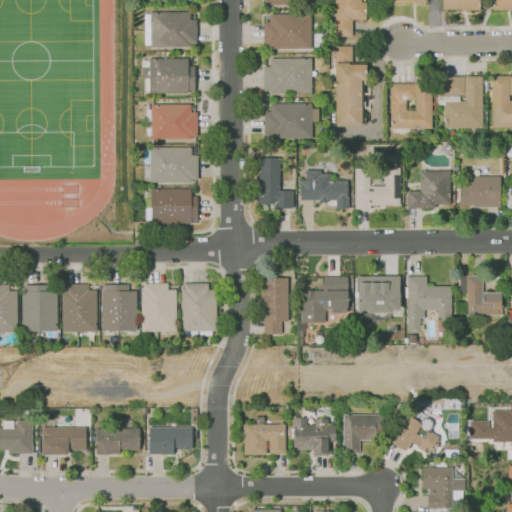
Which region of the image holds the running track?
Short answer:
top left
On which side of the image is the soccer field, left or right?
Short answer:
left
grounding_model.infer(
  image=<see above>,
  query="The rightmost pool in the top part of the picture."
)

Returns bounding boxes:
[424,154,451,168]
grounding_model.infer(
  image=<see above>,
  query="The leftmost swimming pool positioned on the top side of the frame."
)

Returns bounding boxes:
[374,146,401,167]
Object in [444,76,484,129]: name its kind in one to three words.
house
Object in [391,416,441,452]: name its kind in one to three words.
house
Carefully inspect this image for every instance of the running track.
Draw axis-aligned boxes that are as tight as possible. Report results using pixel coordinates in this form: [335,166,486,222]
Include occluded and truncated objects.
[0,0,115,240]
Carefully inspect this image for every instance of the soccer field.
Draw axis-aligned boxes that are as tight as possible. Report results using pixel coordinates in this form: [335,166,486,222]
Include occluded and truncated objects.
[0,0,100,179]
